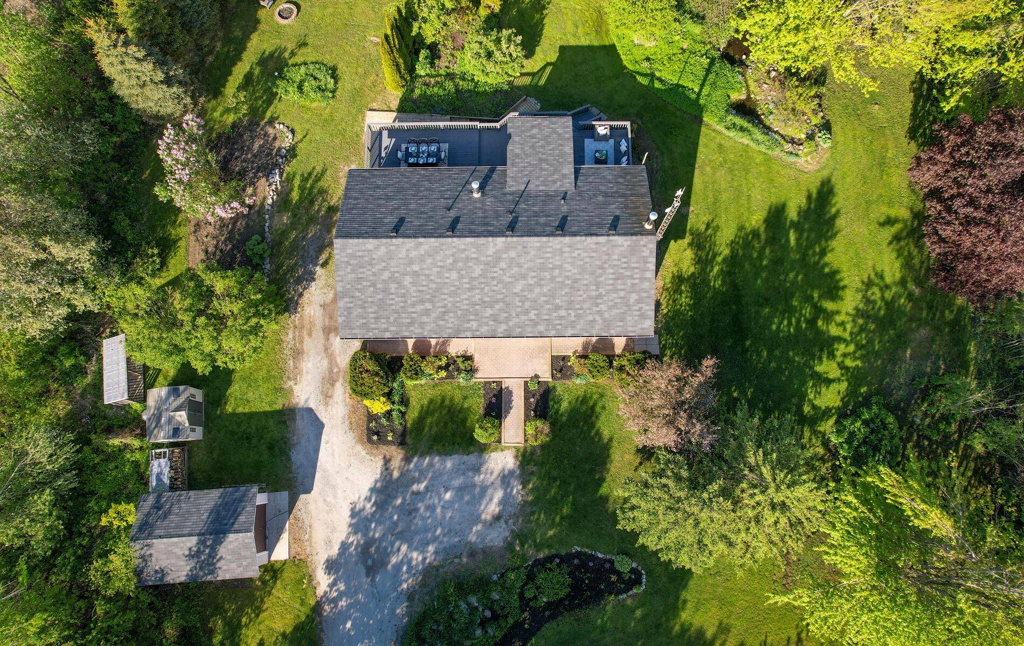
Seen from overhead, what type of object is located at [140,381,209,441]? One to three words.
shed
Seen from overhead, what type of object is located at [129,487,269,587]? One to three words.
building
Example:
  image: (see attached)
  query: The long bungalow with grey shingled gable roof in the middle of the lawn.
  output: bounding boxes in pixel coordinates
[334,115,657,342]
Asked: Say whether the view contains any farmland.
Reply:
No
